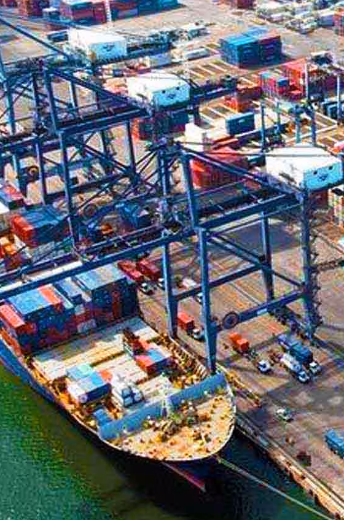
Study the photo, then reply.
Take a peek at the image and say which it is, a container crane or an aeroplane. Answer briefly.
container crane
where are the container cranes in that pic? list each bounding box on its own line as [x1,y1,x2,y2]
[0,61,227,248]
[297,60,344,125]
[0,135,344,373]
[274,100,327,152]
[0,25,167,202]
